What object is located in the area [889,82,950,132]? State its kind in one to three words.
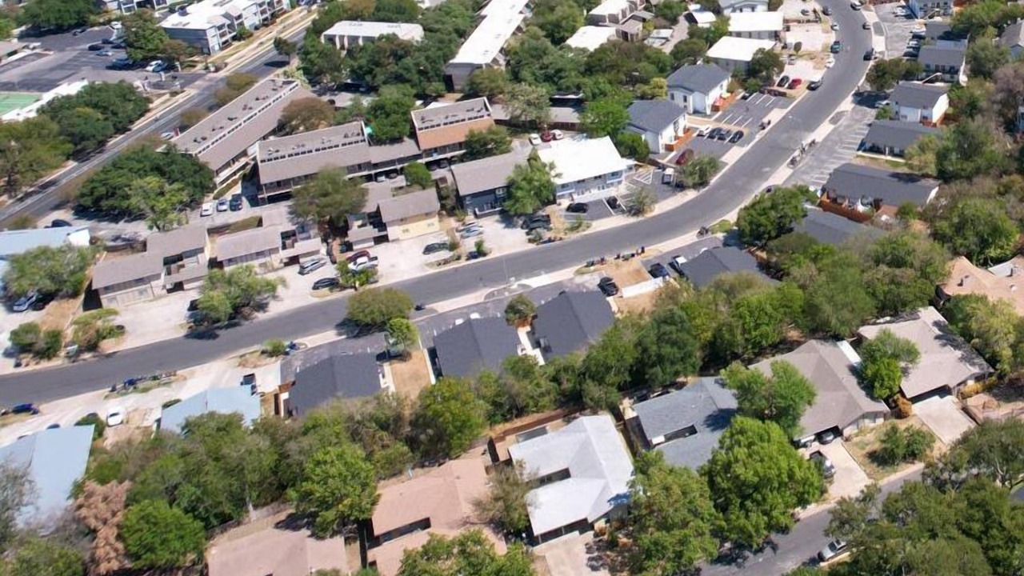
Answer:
house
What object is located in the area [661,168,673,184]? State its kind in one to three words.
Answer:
vehicle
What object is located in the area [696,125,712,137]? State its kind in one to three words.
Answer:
vehicle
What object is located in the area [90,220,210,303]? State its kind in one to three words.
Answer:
house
